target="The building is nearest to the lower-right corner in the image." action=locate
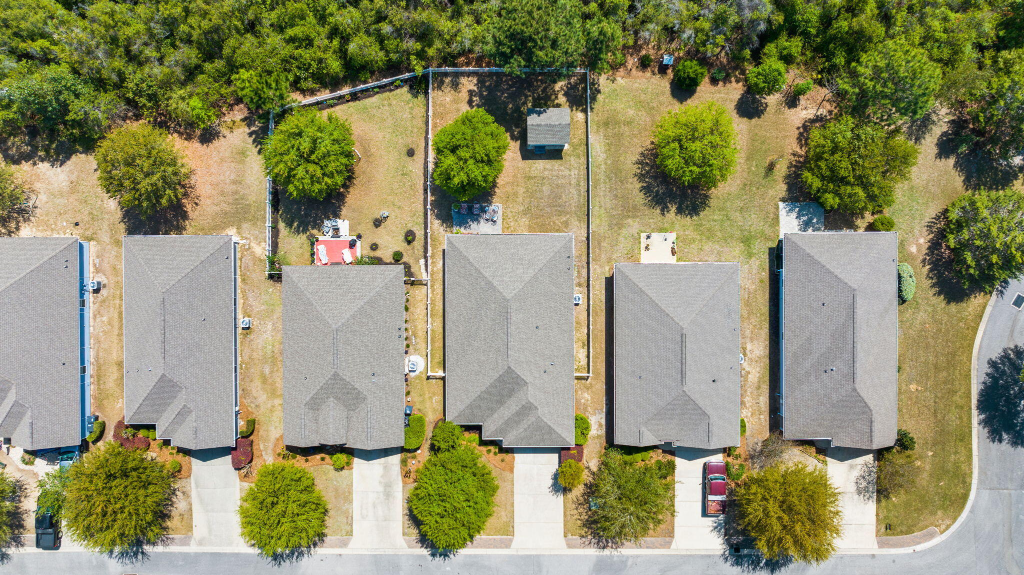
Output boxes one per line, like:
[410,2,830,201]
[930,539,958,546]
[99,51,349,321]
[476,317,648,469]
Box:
[779,232,898,450]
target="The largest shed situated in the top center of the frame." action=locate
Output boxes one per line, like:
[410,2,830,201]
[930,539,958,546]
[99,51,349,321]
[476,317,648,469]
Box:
[527,108,571,155]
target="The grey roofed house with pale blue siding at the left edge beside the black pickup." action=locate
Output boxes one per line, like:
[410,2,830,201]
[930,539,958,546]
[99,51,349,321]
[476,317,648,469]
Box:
[0,237,93,451]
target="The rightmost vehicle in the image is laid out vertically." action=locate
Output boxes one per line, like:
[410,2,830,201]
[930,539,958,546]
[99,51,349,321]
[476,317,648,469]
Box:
[706,459,730,516]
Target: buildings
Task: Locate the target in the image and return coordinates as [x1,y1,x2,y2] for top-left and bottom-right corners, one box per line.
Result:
[779,232,898,450]
[613,263,741,450]
[123,235,239,449]
[283,266,404,450]
[0,237,93,451]
[527,108,571,155]
[445,234,575,448]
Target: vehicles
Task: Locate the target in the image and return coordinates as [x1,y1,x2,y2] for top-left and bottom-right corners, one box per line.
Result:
[58,447,84,490]
[29,495,60,550]
[706,459,730,516]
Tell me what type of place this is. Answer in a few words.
residential area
